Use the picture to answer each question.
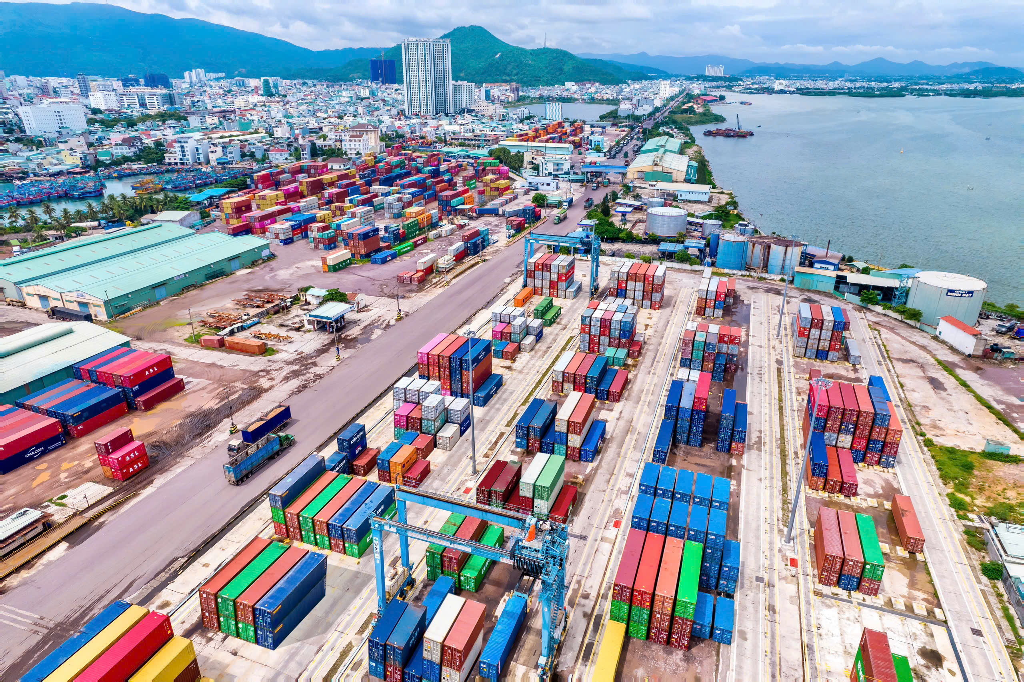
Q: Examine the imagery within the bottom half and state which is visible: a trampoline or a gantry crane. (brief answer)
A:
gantry crane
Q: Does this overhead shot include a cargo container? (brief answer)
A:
Yes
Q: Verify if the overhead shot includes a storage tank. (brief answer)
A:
Yes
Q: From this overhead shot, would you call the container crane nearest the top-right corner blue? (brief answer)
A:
Yes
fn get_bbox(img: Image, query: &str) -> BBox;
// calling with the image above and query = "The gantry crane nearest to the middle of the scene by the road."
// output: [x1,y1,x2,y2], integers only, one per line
[519,228,605,298]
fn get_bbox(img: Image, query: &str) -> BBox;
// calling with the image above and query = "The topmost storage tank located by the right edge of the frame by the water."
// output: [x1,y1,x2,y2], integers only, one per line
[907,269,995,329]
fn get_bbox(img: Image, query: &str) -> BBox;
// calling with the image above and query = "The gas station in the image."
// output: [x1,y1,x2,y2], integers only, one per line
[303,301,359,333]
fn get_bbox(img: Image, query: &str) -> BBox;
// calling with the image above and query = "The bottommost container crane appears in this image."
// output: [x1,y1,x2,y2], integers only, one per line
[356,472,582,682]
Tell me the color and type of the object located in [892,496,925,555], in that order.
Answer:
red shipping container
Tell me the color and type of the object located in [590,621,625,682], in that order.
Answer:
yellow shipping container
